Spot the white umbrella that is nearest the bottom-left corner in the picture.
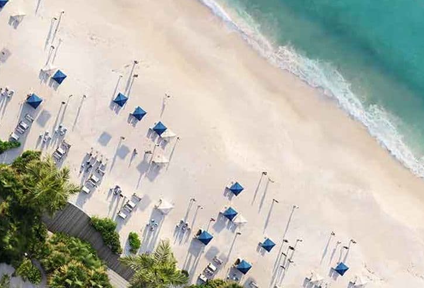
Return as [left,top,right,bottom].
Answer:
[155,197,172,215]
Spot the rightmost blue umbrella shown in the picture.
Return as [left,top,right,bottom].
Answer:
[333,261,349,277]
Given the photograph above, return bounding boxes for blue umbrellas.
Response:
[152,121,167,137]
[228,181,243,196]
[221,204,237,221]
[131,105,146,121]
[52,68,67,85]
[259,236,275,253]
[26,93,42,108]
[196,229,213,245]
[111,93,128,108]
[333,261,349,277]
[235,258,251,275]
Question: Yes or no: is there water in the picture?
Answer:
Yes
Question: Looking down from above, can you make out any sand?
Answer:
Yes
